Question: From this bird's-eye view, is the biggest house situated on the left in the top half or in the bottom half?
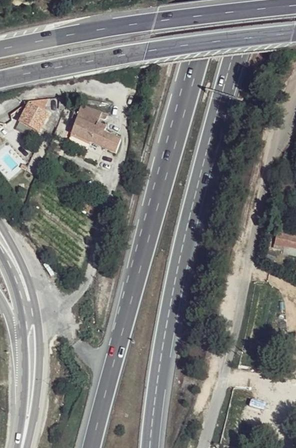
top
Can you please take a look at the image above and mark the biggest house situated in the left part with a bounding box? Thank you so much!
[70,106,121,154]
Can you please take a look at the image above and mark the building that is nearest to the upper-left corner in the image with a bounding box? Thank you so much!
[16,100,52,134]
